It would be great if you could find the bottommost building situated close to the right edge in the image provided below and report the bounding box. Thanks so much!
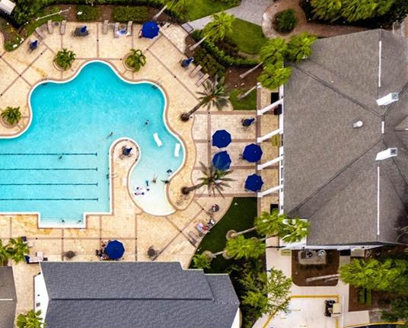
[257,29,408,248]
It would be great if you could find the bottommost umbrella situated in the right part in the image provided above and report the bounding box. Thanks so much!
[243,174,263,193]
